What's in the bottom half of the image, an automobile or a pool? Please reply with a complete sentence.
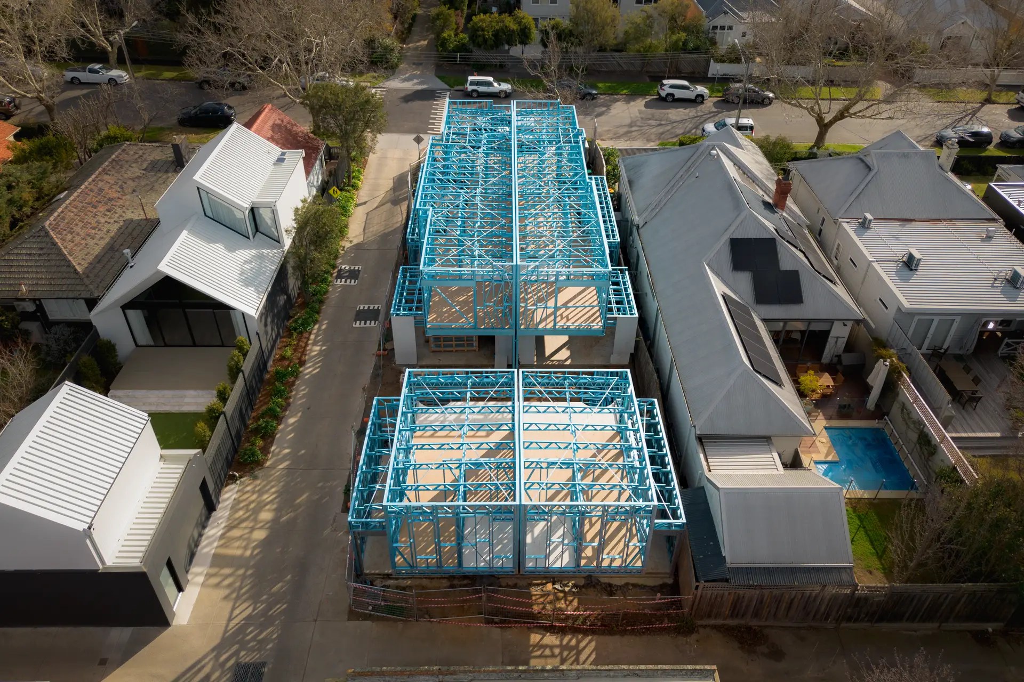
There is a pool in the bottom half of the image.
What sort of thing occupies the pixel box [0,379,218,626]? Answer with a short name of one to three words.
building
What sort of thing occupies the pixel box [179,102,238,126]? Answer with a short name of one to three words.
car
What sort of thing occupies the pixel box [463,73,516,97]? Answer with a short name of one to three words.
car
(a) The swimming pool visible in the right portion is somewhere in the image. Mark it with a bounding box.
[808,420,927,497]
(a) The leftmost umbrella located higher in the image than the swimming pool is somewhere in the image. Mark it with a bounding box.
[864,364,890,417]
